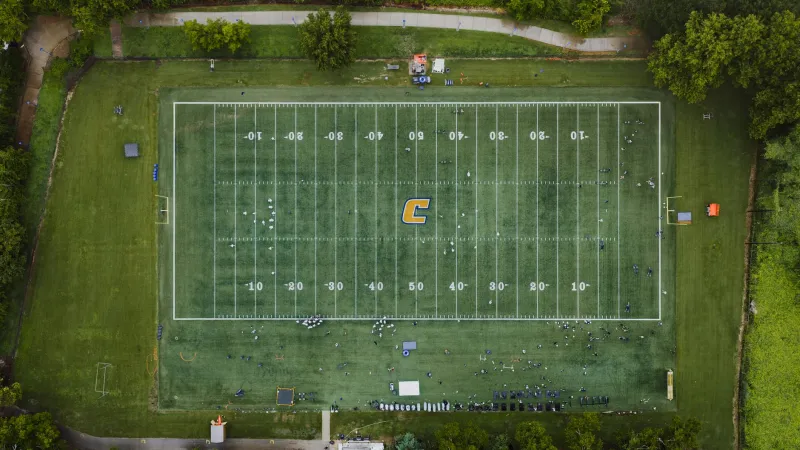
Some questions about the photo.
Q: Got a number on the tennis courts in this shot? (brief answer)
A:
zero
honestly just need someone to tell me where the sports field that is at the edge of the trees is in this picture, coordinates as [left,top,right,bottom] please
[158,88,677,412]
